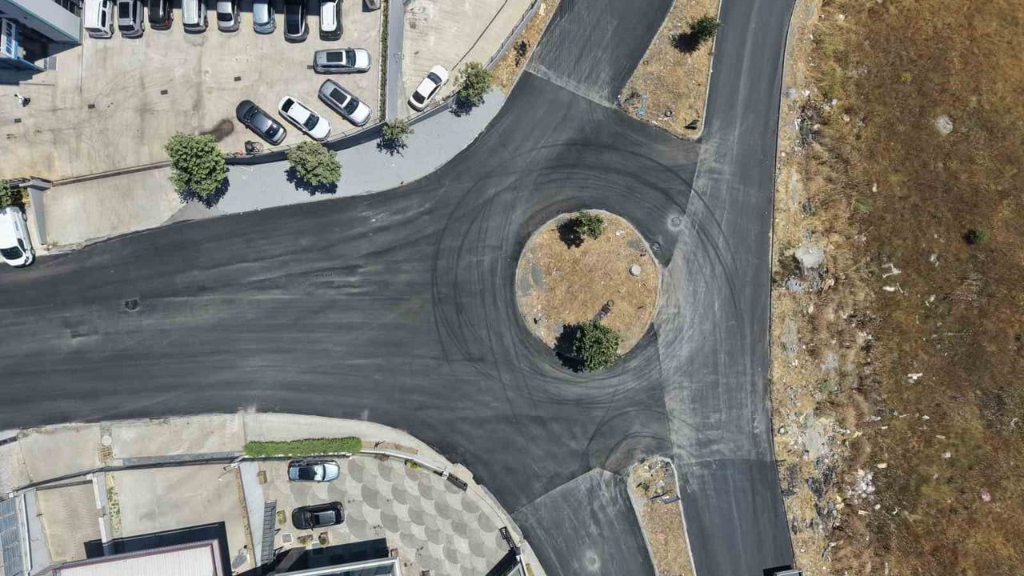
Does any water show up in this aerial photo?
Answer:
No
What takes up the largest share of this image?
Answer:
paved ground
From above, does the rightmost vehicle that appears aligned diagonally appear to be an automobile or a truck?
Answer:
automobile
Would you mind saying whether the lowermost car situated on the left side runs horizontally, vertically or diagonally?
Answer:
horizontally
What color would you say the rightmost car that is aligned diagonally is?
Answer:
white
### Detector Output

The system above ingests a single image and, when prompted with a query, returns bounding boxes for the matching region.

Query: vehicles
[404,62,453,115]
[217,0,243,33]
[317,76,373,128]
[277,94,333,142]
[312,44,373,76]
[768,564,805,576]
[0,205,39,268]
[287,457,341,484]
[181,0,211,35]
[283,0,310,43]
[253,0,279,35]
[234,99,290,148]
[148,0,177,31]
[291,501,346,532]
[116,0,147,39]
[81,0,116,39]
[316,0,344,41]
